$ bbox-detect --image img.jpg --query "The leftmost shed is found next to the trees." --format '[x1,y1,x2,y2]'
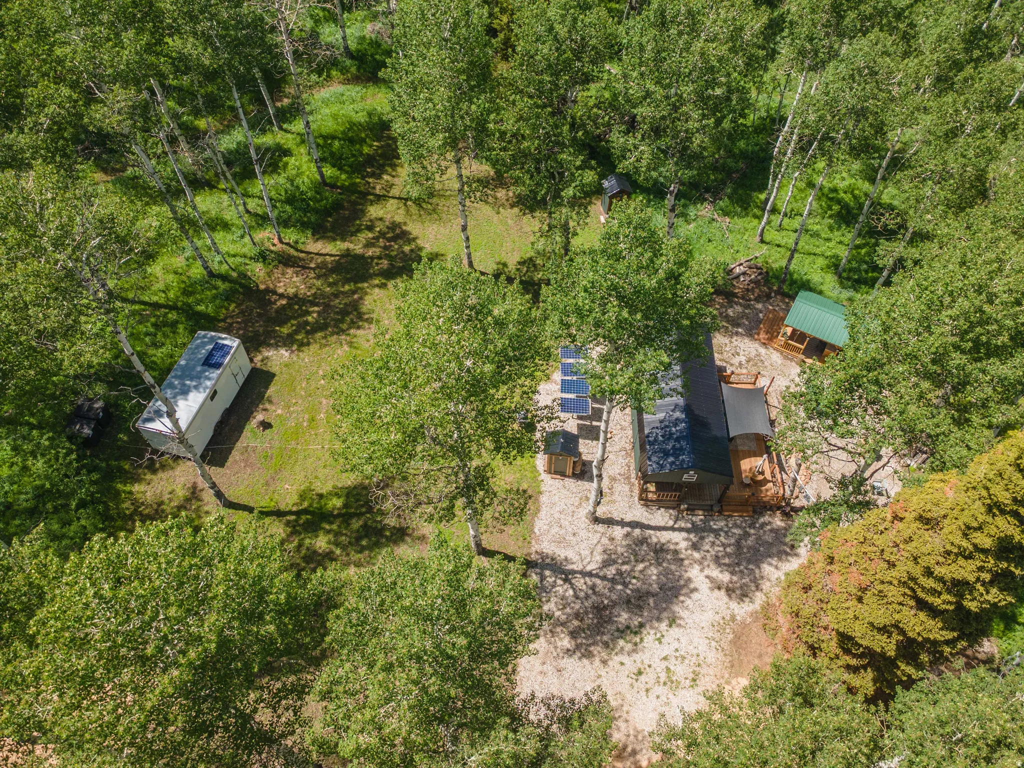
[545,431,578,476]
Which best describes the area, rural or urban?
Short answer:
rural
